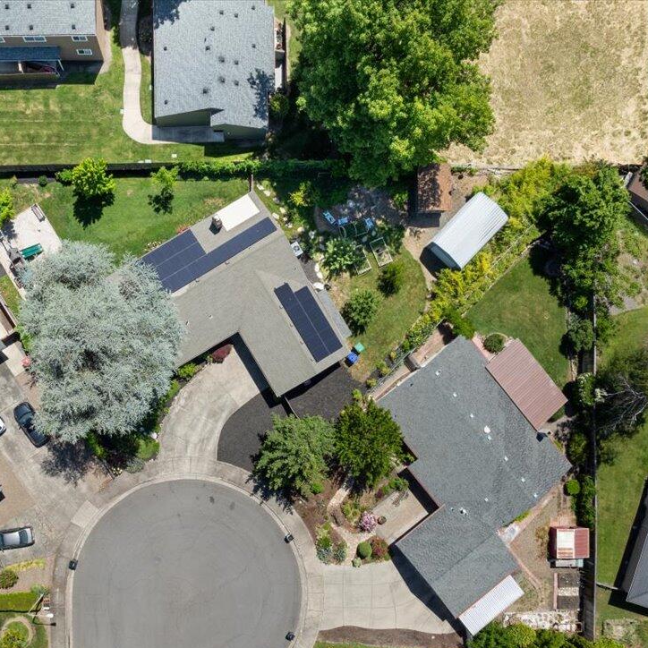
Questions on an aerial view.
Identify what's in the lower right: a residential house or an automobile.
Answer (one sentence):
What appears in the lower right is a residential house.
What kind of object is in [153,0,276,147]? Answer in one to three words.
building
